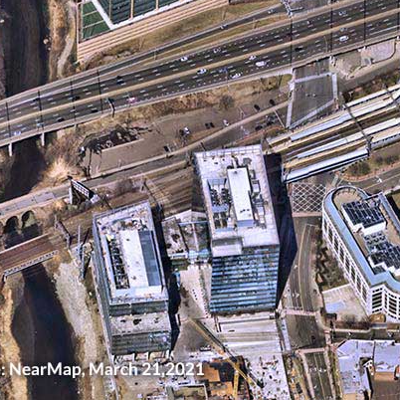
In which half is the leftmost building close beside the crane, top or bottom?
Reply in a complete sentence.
The bottom half of the photo is where the leftmost building close beside the crane is.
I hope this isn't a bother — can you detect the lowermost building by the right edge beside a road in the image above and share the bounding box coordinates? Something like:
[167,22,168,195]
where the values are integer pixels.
[337,340,400,400]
